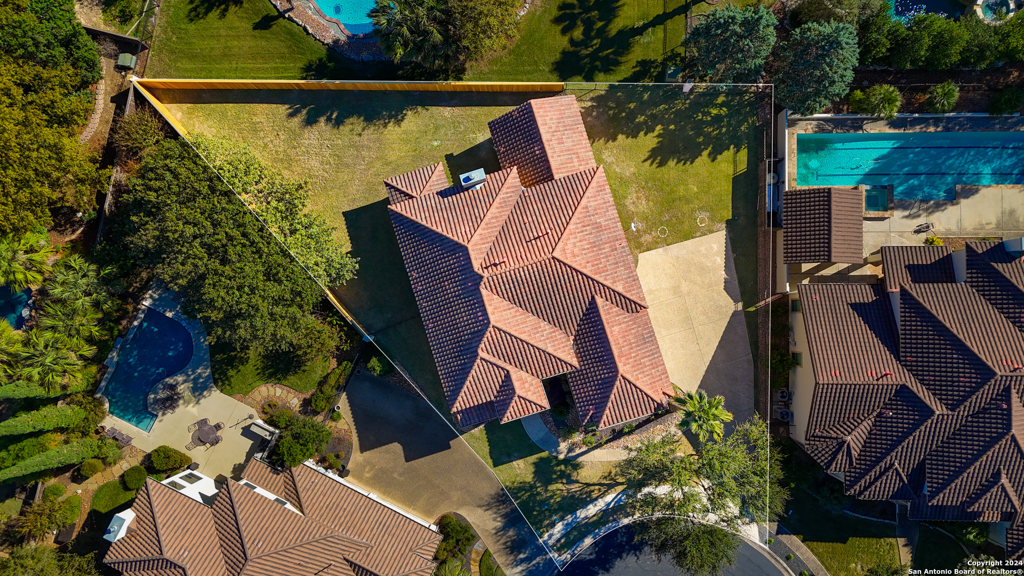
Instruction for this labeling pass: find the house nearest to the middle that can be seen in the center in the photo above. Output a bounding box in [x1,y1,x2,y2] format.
[382,94,674,431]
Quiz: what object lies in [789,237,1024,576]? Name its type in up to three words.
house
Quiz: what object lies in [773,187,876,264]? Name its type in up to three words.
building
